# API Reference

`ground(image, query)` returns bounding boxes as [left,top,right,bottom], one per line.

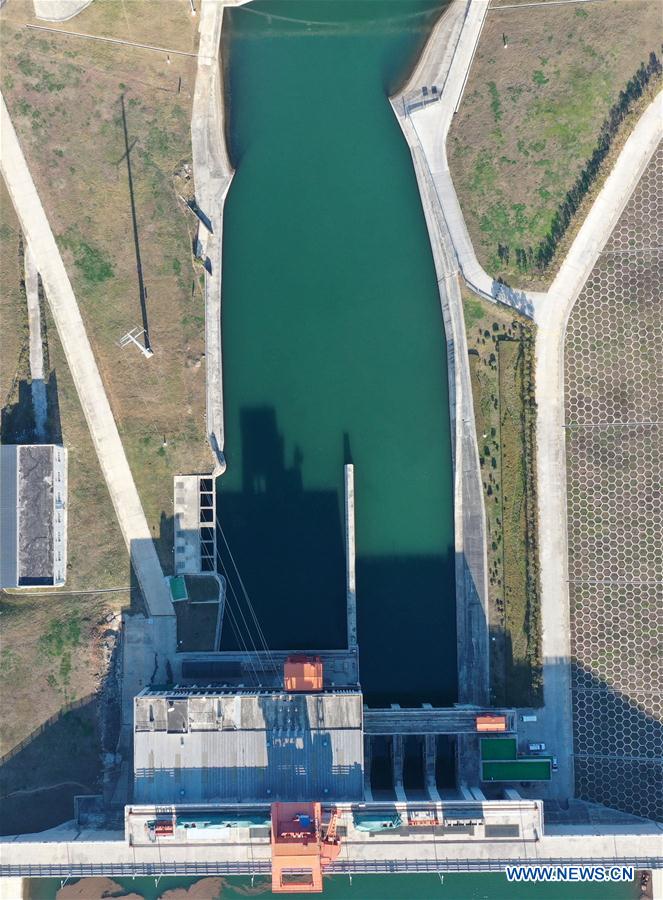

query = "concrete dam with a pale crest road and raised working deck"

[0,779,663,875]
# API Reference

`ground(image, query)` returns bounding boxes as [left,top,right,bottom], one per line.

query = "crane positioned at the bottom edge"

[271,809,343,890]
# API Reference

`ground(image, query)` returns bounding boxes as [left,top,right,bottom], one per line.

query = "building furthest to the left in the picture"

[0,446,70,586]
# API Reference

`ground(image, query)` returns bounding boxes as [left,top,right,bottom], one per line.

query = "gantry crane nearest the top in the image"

[283,647,323,691]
